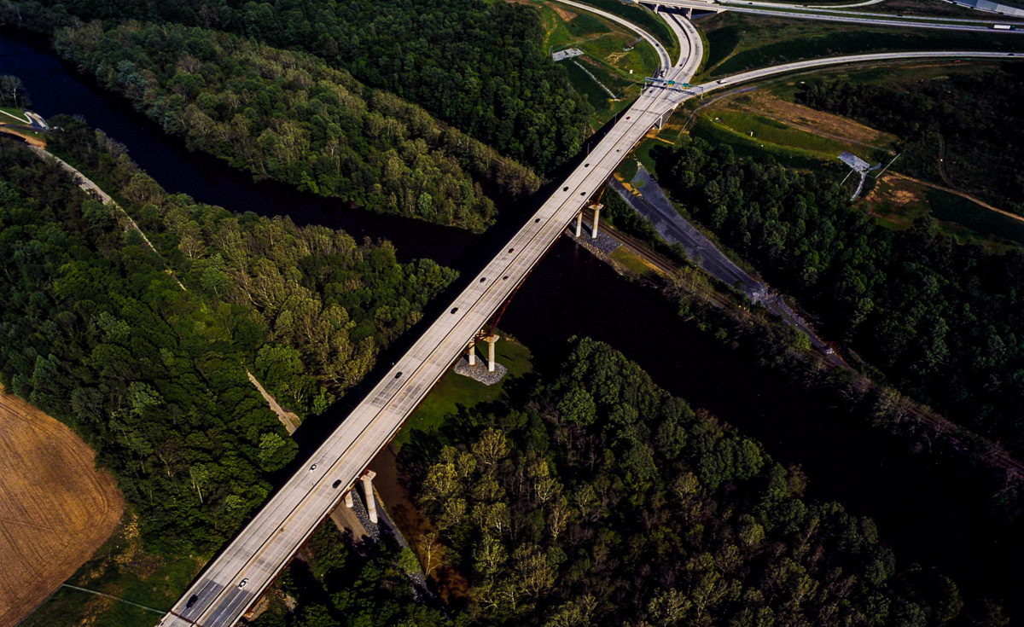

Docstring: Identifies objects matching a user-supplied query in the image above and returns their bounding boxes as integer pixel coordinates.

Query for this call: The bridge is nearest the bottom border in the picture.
[152,98,683,627]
